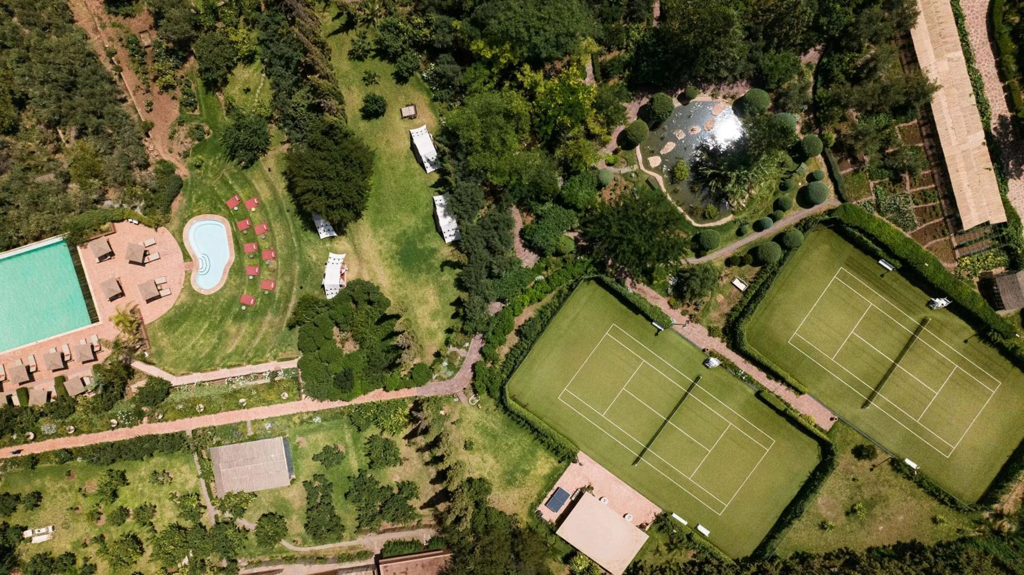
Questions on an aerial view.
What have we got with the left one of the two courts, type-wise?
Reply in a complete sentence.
From above, the left one of the two courts can be identified as a tennis court.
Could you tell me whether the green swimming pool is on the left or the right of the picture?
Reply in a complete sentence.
The green swimming pool is on the left side of the image.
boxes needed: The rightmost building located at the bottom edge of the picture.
[556,487,648,575]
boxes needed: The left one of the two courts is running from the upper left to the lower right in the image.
[505,278,821,561]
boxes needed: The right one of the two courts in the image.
[740,222,1024,503]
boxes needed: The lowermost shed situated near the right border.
[983,270,1024,311]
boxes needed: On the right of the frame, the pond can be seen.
[633,94,759,228]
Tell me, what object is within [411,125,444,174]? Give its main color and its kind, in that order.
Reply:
white tent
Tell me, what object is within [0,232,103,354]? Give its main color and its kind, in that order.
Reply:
green swimming pool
